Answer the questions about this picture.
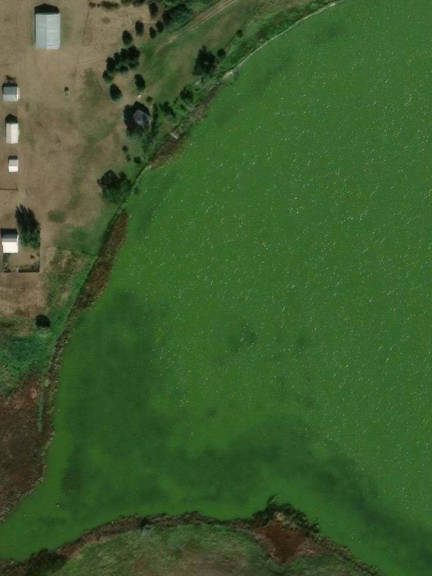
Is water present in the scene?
Yes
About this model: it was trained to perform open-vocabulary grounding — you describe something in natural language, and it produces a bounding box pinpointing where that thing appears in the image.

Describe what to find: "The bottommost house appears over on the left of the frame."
[0,233,19,253]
